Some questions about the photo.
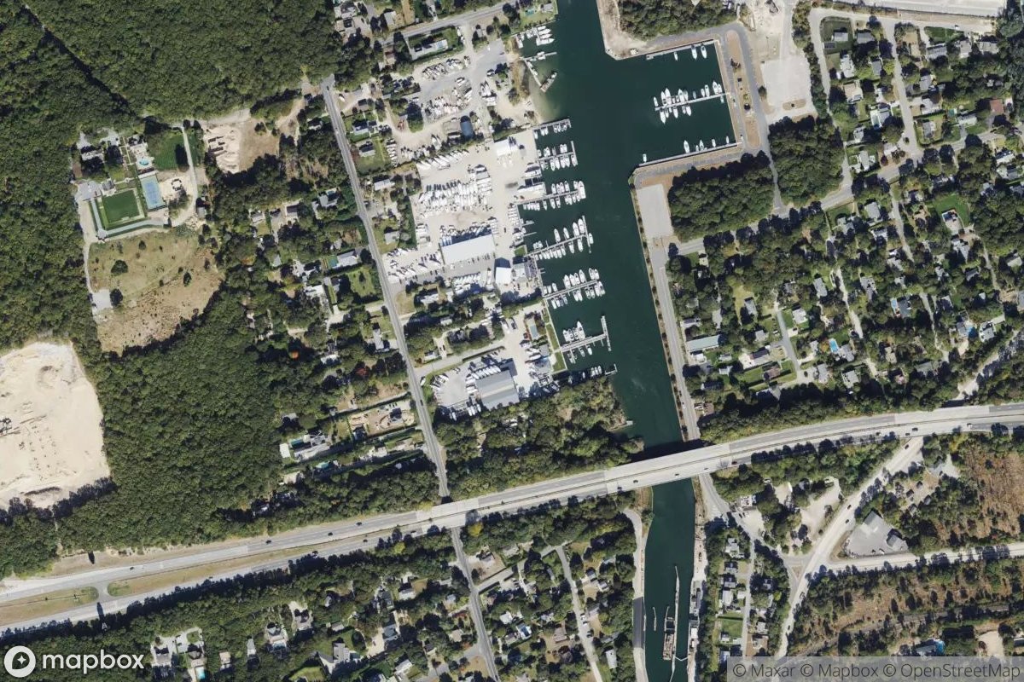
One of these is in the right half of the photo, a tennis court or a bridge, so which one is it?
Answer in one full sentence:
Looking in the right half of the photo, you will find a bridge.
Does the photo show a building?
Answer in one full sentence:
Yes, there's a building down there.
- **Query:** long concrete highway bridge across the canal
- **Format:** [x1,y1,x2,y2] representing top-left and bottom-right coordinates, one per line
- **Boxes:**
[605,441,729,493]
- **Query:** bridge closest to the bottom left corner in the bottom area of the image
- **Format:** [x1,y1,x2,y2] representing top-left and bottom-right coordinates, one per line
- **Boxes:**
[417,501,466,536]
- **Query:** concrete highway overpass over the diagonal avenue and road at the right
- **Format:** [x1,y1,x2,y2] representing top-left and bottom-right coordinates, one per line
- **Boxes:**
[896,404,990,437]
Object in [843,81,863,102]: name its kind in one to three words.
house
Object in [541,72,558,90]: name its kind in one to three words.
ship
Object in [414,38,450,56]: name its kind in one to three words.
building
